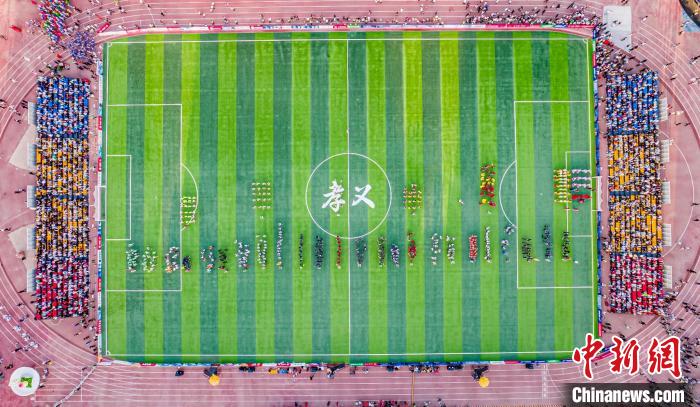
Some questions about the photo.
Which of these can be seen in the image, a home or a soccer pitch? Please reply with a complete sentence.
It is a soccer pitch that can be seen here.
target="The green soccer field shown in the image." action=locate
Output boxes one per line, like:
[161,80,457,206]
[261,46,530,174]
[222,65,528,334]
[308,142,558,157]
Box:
[100,32,602,361]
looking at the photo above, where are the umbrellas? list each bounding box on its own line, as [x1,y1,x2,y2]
[479,376,489,386]
[208,375,219,385]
